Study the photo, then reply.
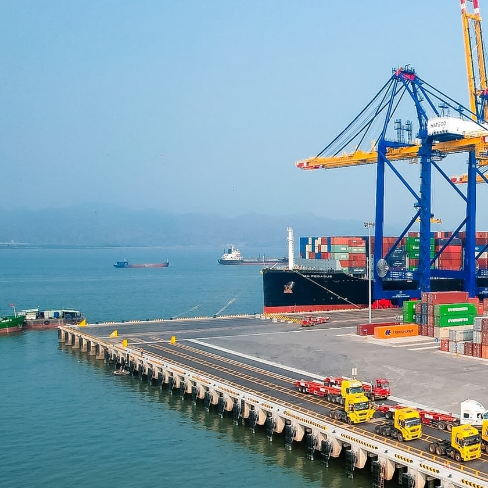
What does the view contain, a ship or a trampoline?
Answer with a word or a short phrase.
ship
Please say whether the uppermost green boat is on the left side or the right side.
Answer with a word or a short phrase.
left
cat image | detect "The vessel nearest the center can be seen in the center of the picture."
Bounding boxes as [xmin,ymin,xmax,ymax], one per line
[219,245,308,264]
